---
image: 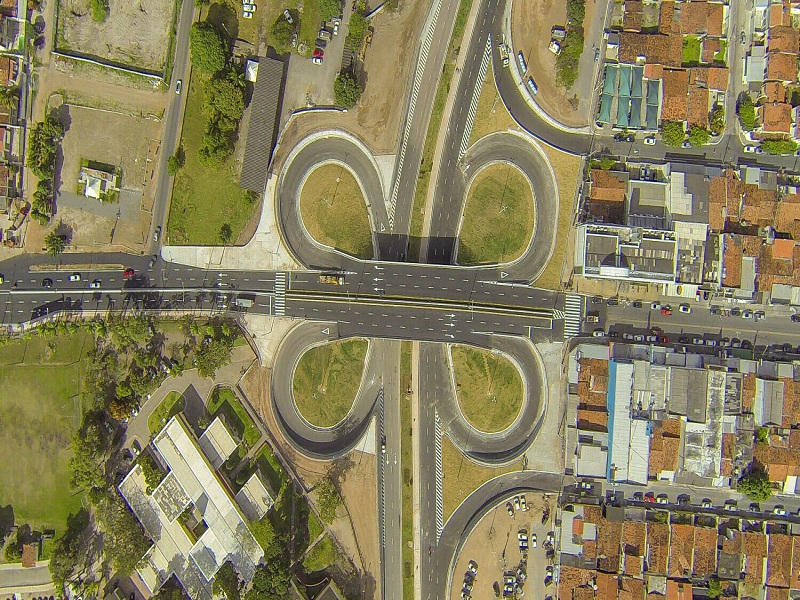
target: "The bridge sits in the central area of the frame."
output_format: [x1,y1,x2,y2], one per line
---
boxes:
[371,262,455,343]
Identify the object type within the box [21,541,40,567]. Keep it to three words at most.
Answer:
shed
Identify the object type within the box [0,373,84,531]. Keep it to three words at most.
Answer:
sports field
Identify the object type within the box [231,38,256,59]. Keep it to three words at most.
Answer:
shed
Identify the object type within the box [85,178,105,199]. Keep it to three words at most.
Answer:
house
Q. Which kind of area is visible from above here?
residential area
